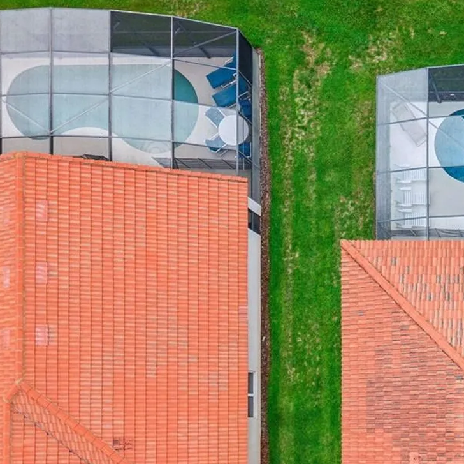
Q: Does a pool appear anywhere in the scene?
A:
Yes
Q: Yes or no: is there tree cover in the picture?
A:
No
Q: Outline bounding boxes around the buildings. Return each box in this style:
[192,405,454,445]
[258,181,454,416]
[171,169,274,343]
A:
[338,236,464,464]
[0,151,262,464]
